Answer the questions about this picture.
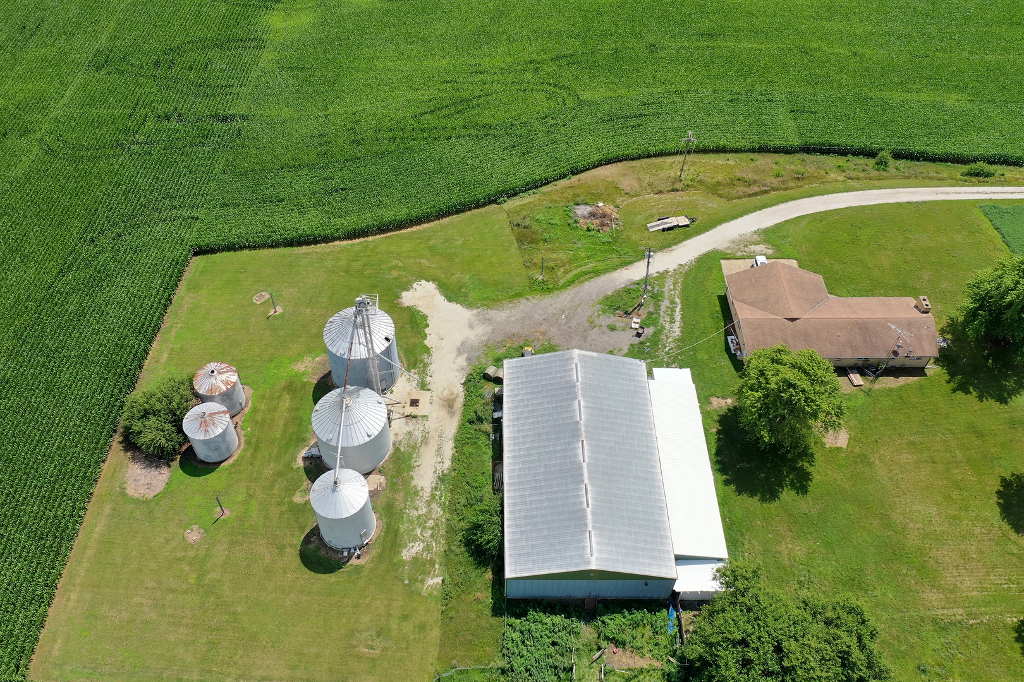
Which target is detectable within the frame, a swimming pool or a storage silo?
storage silo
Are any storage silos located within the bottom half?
Yes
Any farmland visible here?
Yes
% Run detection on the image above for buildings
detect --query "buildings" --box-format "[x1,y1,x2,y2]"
[504,349,729,600]
[724,261,940,369]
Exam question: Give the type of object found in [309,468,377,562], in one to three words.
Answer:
silo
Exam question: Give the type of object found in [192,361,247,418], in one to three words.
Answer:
silo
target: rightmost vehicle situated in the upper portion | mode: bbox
[750,253,769,267]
